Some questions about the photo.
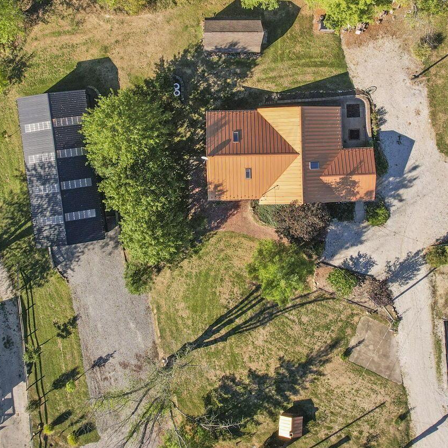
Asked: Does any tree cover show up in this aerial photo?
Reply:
Yes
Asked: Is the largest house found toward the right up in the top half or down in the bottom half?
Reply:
top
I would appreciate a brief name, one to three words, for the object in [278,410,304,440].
building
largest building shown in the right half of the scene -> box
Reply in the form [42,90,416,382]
[206,105,376,205]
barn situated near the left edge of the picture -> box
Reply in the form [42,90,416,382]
[17,89,107,247]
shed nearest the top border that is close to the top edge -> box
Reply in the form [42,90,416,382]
[204,17,263,53]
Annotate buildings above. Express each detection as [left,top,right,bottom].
[17,89,107,247]
[204,17,263,53]
[278,410,304,440]
[206,105,376,205]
